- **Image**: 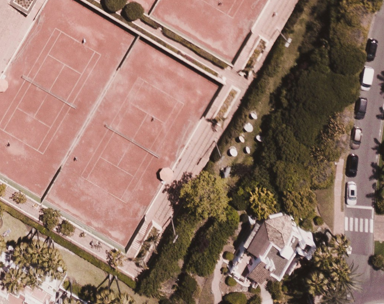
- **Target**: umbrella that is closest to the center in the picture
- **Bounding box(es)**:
[160,167,173,181]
